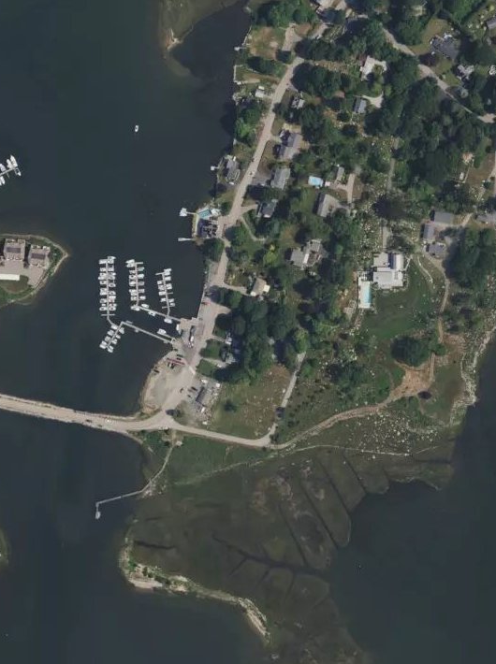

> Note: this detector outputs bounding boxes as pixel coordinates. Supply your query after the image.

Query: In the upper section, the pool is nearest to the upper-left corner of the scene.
[196,207,214,222]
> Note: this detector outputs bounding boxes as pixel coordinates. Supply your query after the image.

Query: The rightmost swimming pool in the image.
[359,278,371,307]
